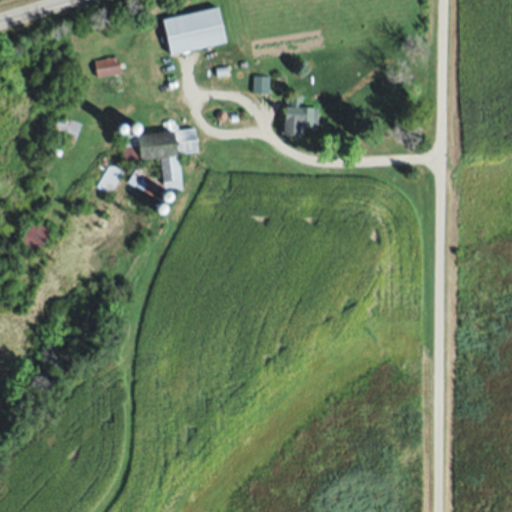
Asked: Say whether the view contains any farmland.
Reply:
Yes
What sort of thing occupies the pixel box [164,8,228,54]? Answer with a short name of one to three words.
shed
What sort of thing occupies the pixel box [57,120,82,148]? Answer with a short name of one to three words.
house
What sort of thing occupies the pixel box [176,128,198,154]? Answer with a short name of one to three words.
barn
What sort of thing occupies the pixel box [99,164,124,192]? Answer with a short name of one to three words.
shed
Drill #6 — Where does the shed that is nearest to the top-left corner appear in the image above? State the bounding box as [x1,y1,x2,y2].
[95,57,122,78]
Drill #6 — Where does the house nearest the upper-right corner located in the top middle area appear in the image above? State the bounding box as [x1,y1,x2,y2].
[285,96,320,138]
